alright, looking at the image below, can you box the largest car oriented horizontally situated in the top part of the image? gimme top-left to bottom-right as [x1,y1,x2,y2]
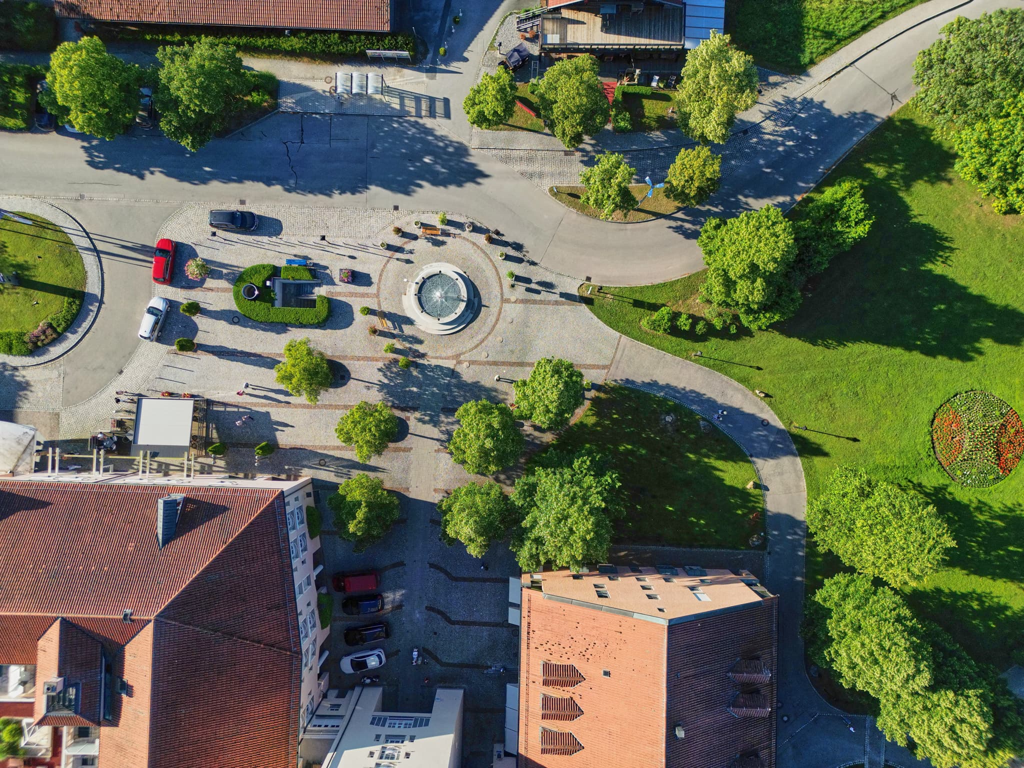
[207,209,259,233]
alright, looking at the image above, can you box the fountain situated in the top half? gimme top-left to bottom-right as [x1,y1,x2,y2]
[402,261,478,335]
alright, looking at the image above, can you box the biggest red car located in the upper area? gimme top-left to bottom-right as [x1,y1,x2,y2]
[154,239,179,284]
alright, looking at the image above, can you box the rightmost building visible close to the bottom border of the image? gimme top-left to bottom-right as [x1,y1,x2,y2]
[517,563,781,768]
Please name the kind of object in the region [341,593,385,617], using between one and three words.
car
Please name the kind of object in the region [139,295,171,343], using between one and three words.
car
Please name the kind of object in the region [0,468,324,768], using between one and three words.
building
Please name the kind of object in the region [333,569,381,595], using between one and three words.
vehicle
